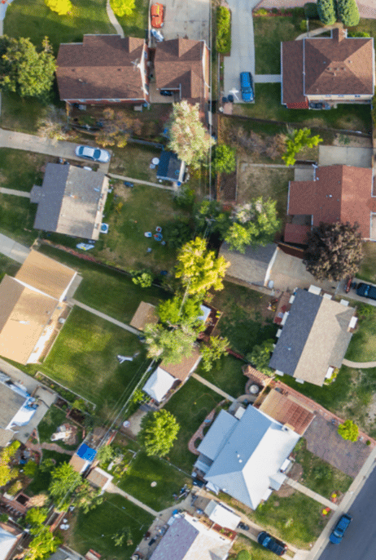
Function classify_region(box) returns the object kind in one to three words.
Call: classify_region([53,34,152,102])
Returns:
house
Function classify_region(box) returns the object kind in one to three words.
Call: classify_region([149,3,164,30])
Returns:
car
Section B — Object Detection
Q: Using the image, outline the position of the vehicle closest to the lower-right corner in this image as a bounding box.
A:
[328,512,354,545]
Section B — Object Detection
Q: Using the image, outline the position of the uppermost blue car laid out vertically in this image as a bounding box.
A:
[239,70,255,103]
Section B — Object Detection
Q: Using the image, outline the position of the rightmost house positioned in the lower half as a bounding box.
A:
[268,288,360,388]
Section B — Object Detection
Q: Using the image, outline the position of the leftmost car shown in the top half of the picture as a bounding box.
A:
[74,147,112,163]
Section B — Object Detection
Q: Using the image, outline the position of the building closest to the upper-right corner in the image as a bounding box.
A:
[281,26,375,106]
